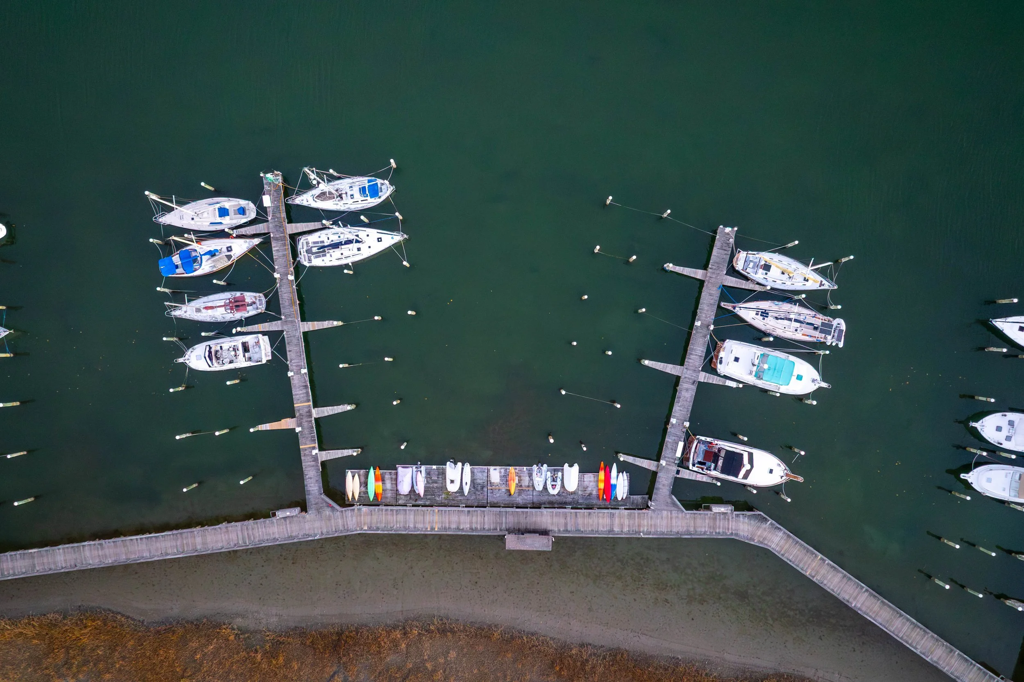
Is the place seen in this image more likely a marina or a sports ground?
marina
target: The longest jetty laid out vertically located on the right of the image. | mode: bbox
[649,228,736,510]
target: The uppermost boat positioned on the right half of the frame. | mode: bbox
[732,251,844,290]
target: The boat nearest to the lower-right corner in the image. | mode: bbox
[960,463,1024,506]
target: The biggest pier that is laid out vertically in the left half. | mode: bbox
[264,175,343,512]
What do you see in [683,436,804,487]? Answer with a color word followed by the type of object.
white boat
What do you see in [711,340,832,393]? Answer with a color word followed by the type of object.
white boat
